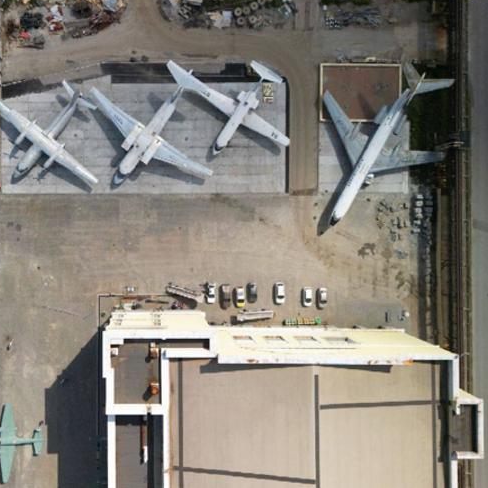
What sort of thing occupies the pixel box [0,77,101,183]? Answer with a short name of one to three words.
airplane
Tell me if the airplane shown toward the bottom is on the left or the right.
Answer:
left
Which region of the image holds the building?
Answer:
bottom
